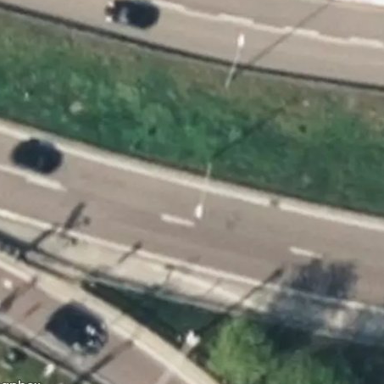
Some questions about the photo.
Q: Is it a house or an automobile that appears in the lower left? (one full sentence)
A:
Looking in the lower left, you will find an automobile.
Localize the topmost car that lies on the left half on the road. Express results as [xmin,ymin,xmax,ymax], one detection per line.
[107,0,156,26]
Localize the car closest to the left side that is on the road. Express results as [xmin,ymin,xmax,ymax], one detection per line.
[11,142,62,175]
